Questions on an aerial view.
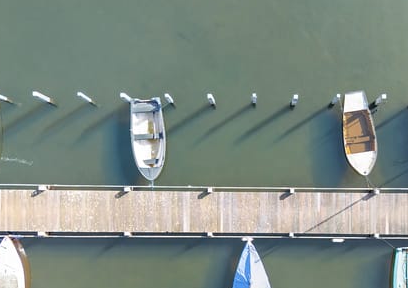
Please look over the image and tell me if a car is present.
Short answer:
No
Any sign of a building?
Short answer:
No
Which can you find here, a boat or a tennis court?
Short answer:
boat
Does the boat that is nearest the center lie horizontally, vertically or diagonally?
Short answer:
vertically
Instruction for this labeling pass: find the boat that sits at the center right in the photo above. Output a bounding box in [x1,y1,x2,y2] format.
[343,91,379,177]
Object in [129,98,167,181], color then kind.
white boat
